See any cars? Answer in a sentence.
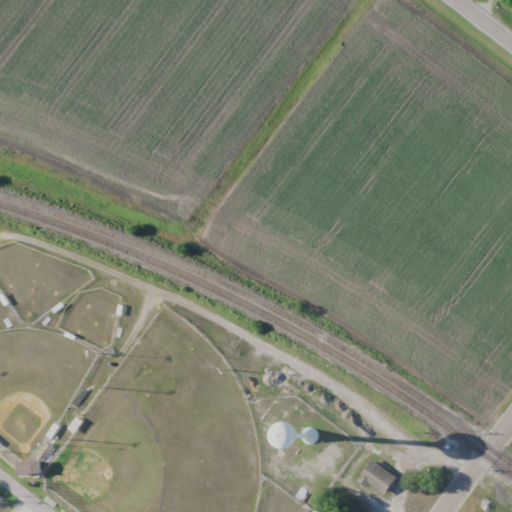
No, this view has no car in it.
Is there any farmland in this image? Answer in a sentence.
Yes, there is farmland in the image.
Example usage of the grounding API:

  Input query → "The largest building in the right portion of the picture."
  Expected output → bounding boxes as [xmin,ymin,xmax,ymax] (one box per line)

[356,460,396,494]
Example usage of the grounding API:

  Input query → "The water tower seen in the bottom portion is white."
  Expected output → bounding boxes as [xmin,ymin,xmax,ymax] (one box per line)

[266,422,319,450]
